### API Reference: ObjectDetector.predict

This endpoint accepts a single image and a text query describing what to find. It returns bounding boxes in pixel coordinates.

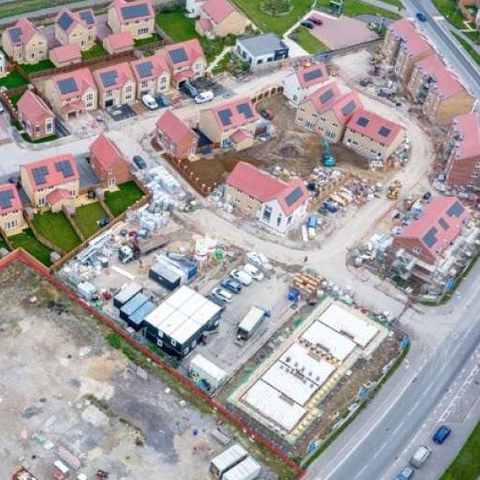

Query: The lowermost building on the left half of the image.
[142,286,221,362]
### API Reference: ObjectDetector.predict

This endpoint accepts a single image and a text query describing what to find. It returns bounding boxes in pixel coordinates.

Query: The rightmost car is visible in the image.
[433,422,452,442]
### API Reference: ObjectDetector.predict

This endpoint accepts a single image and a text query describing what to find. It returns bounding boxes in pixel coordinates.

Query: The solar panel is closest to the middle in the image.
[285,184,308,207]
